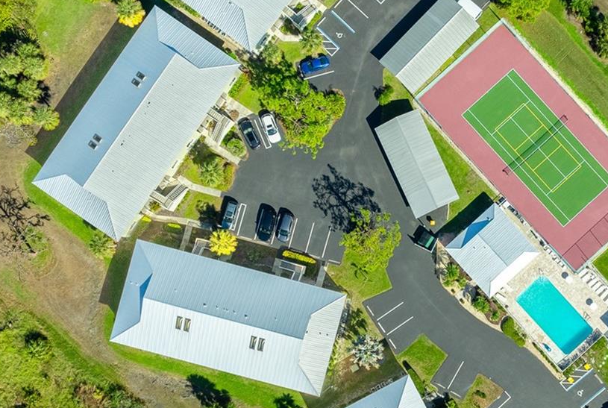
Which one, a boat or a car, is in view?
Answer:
car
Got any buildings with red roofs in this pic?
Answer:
No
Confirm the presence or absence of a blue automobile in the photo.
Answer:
Yes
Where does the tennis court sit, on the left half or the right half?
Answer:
right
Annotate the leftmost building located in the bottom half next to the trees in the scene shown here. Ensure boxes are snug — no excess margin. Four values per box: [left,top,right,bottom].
[109,231,347,398]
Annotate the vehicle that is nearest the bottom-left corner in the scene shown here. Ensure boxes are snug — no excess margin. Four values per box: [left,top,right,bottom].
[221,201,239,230]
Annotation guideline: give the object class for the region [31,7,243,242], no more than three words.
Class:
building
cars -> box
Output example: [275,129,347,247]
[278,212,295,242]
[301,56,331,73]
[261,113,282,145]
[240,120,262,150]
[257,206,275,241]
[221,201,239,230]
